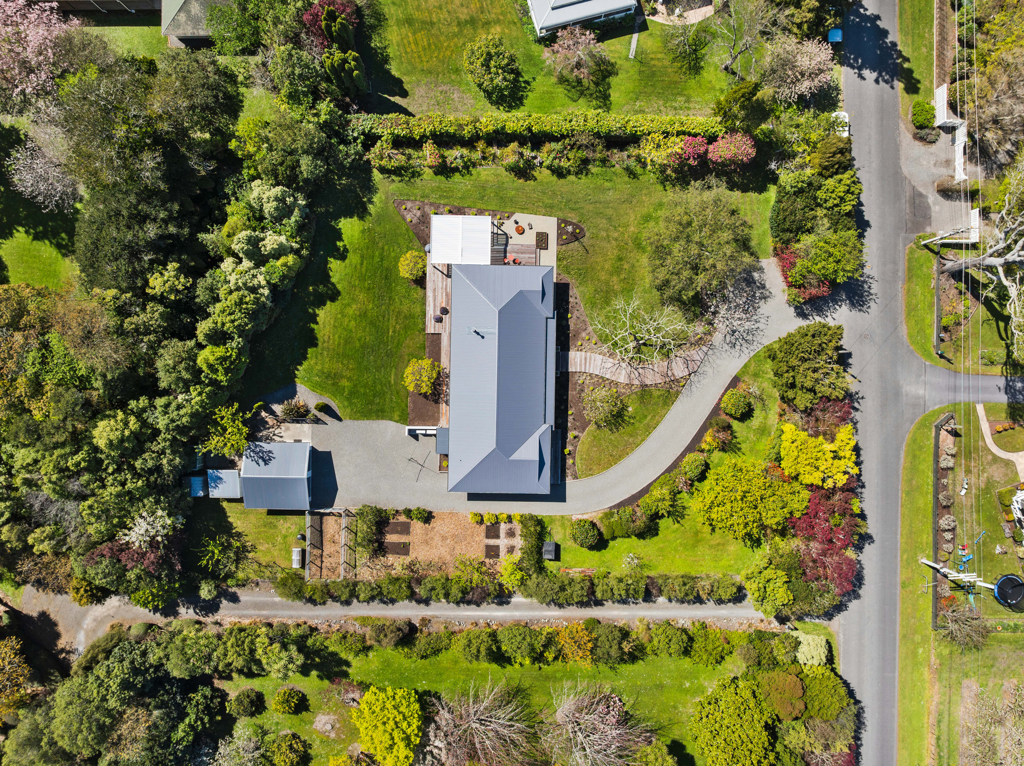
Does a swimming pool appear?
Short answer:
No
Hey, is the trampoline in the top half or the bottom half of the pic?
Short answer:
bottom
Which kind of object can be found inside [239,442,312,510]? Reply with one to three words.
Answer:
building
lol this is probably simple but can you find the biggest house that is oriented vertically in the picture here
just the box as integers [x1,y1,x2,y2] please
[447,264,556,495]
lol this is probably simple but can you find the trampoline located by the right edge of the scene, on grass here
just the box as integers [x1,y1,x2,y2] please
[986,573,1024,611]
